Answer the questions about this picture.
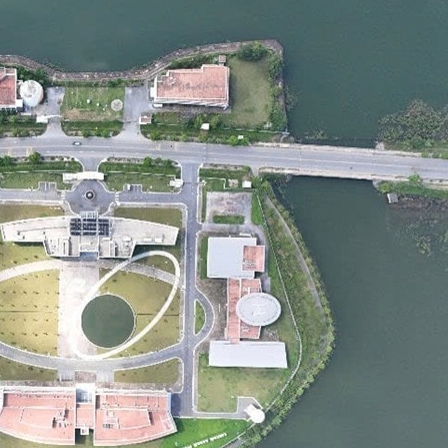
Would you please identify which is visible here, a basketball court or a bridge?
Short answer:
bridge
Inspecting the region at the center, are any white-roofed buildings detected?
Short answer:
Yes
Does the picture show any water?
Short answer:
Yes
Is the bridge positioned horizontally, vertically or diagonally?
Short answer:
horizontally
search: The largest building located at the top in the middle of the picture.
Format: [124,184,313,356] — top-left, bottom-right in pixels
[149,65,228,113]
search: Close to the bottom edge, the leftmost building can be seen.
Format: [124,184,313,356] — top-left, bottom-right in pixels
[0,383,75,444]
